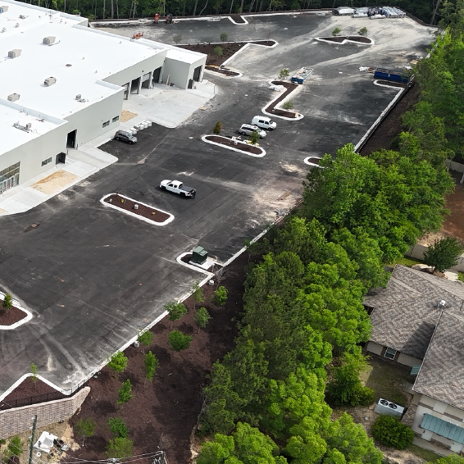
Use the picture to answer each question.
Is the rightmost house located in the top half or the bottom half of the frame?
bottom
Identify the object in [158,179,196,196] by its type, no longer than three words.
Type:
vehicle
